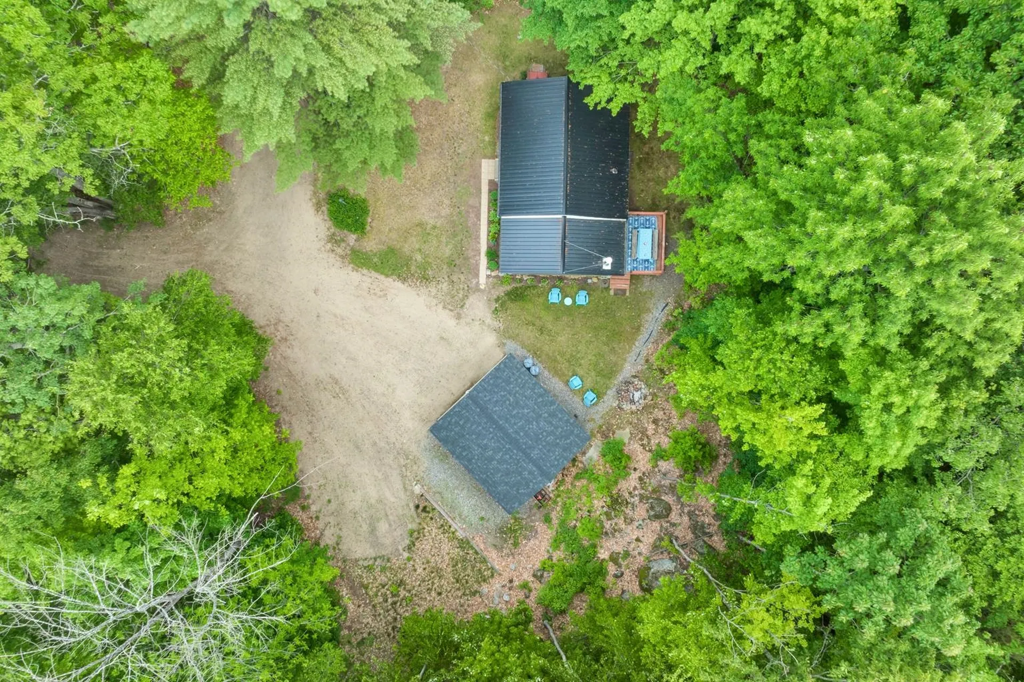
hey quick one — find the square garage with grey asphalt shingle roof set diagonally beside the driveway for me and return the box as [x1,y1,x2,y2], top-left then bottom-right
[430,354,589,513]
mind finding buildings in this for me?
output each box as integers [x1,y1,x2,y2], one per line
[495,75,630,281]
[430,354,589,513]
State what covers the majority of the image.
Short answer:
trees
